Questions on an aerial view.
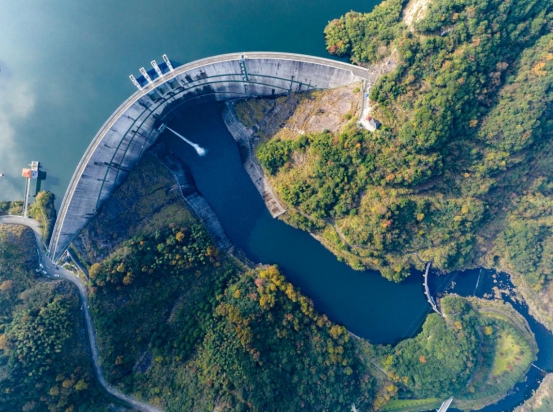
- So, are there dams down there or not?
Yes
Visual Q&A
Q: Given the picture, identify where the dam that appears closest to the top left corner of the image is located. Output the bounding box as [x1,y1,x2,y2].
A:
[46,51,375,262]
